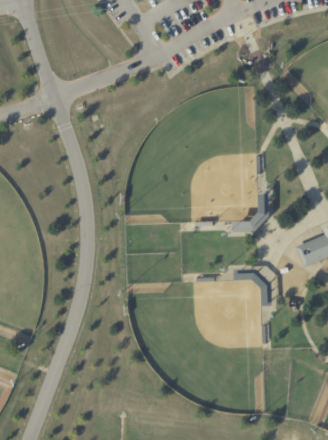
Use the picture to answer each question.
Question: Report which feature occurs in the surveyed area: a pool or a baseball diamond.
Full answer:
Looking from above, you can make out a baseball diamond.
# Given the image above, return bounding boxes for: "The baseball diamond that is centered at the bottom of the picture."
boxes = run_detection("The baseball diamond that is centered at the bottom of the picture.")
[128,280,264,414]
